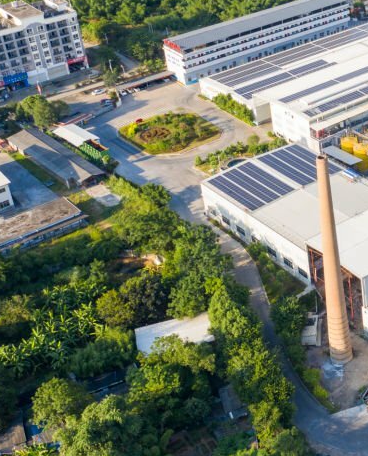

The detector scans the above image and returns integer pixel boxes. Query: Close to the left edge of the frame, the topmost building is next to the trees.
[0,0,88,94]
